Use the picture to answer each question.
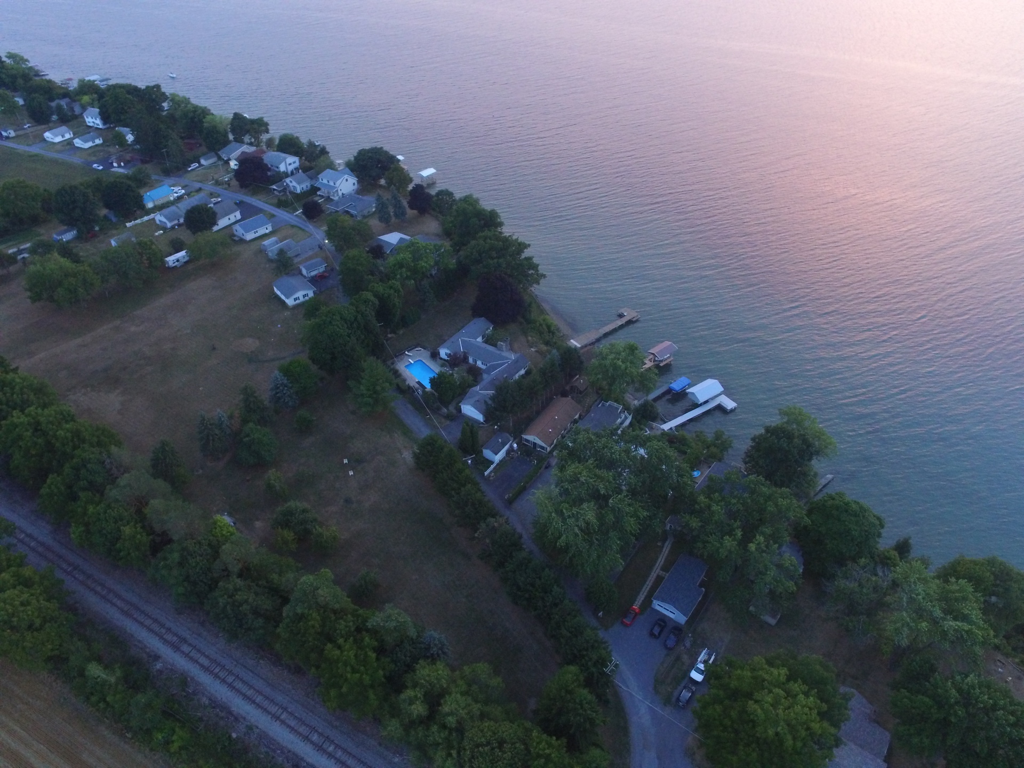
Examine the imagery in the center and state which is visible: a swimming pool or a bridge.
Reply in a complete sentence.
What appears in the center is a swimming pool.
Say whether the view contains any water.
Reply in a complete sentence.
Yes, water can be seen from above here.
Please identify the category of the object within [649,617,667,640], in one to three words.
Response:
car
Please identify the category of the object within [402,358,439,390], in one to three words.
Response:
swimming pool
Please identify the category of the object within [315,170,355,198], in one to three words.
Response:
house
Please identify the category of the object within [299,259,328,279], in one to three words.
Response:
building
